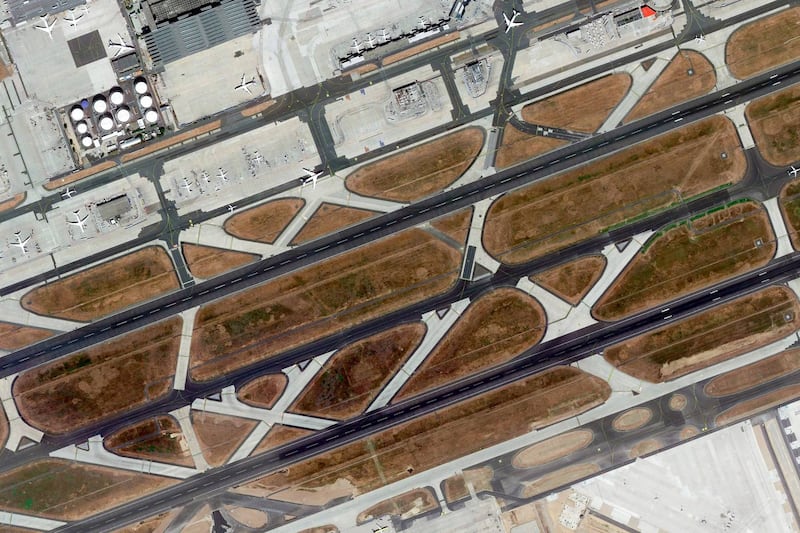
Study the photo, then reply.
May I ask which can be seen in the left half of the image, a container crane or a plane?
plane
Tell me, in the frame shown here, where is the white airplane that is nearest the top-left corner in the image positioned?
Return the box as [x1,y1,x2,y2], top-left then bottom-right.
[34,15,57,38]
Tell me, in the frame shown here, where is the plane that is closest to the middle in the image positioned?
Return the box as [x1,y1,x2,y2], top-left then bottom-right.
[301,170,323,190]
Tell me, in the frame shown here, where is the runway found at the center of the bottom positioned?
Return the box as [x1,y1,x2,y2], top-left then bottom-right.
[42,252,800,533]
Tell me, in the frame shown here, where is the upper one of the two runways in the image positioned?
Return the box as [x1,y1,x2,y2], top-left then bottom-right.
[0,59,800,381]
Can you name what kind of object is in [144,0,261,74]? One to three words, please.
hangar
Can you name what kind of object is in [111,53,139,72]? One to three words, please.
building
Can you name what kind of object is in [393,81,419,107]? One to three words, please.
building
